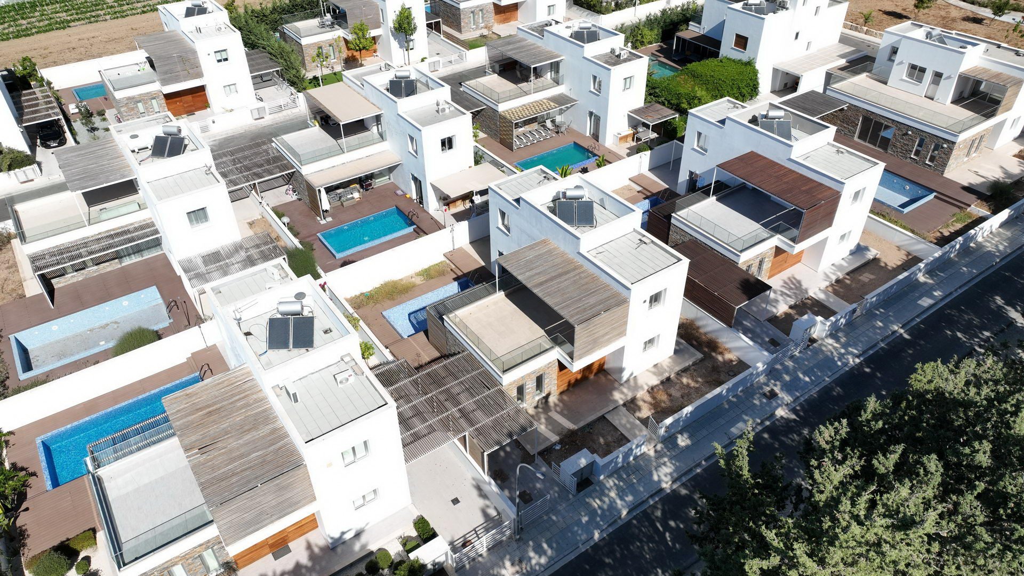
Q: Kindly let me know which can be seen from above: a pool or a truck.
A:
pool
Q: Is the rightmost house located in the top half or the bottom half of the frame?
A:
top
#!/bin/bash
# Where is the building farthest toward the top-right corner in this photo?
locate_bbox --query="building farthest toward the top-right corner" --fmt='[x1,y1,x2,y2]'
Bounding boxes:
[825,15,1024,175]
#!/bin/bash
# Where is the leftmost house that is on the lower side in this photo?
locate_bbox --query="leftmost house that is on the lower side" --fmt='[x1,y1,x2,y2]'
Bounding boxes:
[91,257,414,576]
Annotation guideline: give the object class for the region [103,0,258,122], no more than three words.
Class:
house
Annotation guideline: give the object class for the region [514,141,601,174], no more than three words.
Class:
swimming pool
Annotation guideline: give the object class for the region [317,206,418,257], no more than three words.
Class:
swimming pool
